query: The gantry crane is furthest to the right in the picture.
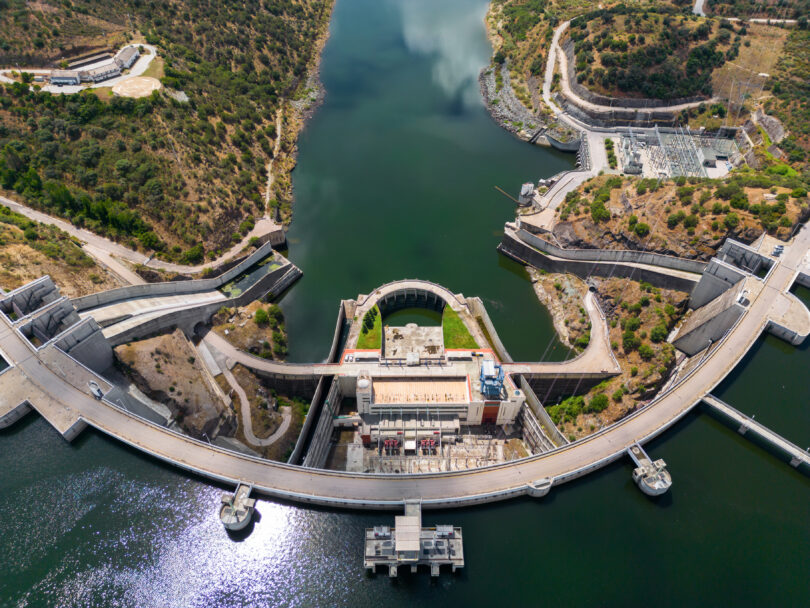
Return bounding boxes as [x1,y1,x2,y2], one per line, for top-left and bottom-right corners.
[480,355,508,397]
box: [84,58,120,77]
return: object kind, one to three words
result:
building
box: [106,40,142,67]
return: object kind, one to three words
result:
building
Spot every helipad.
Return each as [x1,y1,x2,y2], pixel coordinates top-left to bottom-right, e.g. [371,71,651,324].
[110,75,162,100]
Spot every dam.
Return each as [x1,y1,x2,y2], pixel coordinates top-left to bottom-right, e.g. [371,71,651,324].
[0,218,810,506]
